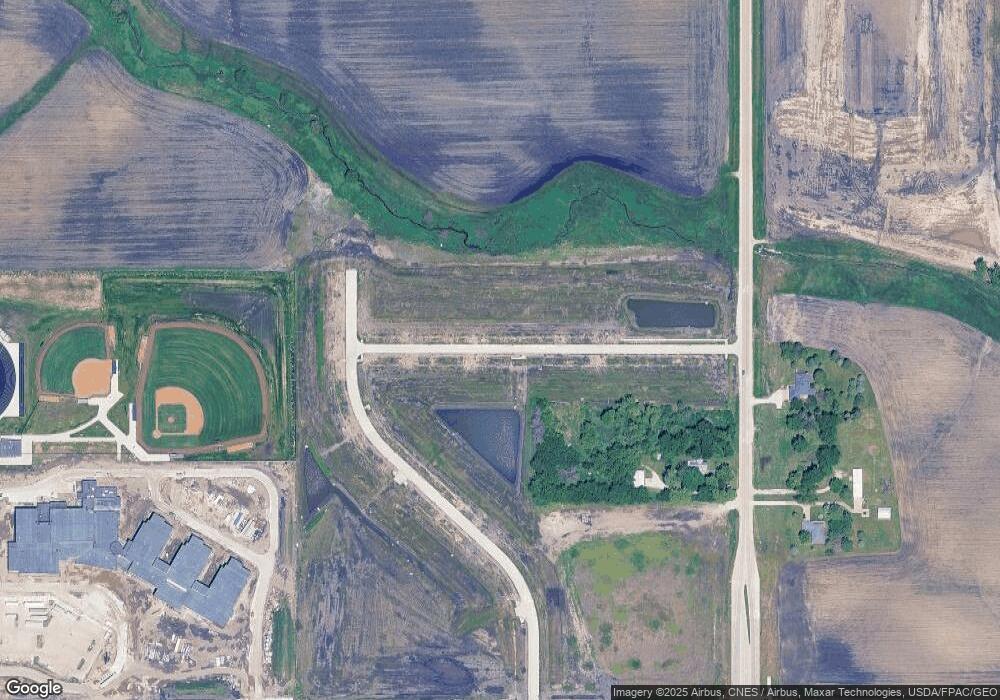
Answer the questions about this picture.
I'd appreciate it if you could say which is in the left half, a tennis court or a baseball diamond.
baseball diamond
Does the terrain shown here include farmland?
Yes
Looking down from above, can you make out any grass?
Yes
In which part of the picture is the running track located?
left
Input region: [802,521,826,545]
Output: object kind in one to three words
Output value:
house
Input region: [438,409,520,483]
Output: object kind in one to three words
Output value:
pond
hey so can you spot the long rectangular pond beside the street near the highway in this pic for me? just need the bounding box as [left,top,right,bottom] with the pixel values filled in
[628,299,716,327]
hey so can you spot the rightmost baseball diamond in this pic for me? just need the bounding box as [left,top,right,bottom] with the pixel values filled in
[136,321,269,454]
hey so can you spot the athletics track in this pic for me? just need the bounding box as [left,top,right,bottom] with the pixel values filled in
[0,328,24,420]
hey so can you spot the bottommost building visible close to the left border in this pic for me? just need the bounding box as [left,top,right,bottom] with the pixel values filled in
[7,479,250,628]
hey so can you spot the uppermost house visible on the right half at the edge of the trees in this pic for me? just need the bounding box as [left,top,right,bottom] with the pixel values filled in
[789,372,815,402]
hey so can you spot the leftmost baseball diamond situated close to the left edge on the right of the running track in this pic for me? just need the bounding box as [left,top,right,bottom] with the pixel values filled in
[36,322,115,402]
